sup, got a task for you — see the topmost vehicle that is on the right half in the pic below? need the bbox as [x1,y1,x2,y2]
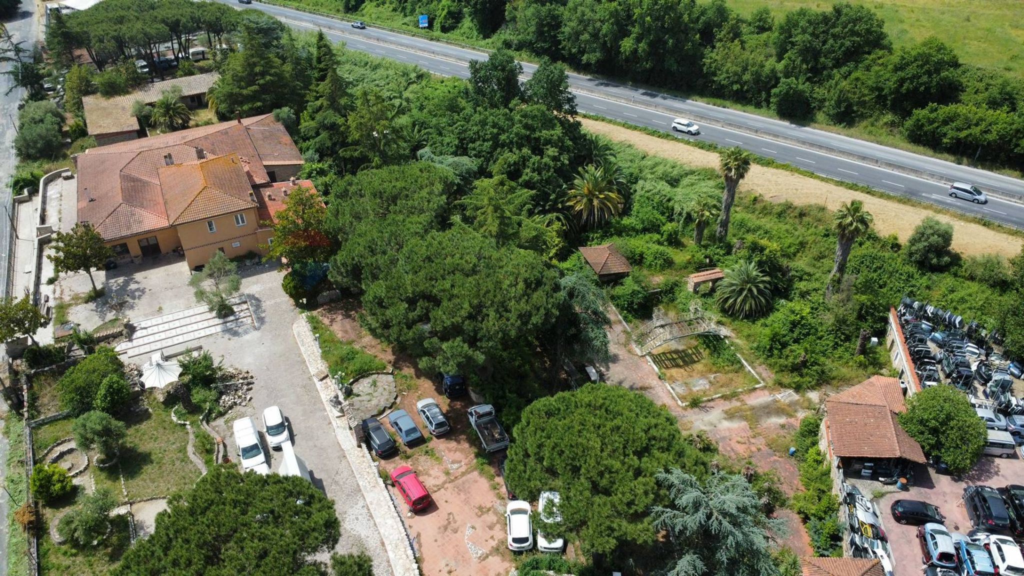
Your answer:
[671,118,699,135]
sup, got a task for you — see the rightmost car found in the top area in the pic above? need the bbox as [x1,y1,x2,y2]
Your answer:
[947,182,987,204]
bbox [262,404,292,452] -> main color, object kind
white car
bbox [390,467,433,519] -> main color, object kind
red car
